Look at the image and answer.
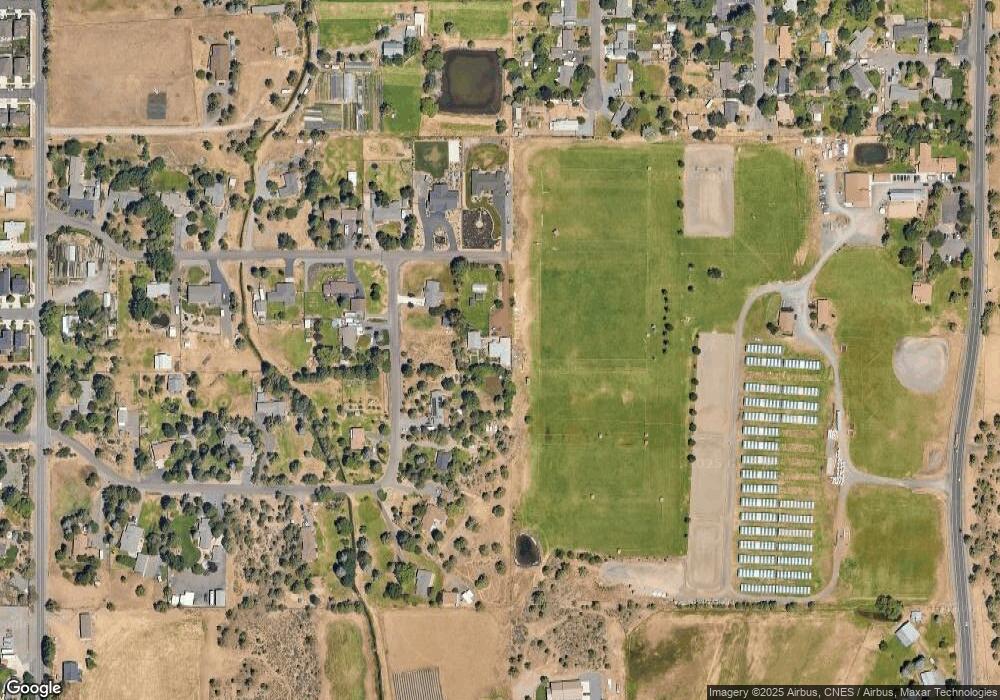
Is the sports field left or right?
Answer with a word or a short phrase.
right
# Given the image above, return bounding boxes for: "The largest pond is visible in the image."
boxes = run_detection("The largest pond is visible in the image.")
[447,55,496,105]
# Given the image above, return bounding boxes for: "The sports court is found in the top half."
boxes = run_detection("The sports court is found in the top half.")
[147,93,166,119]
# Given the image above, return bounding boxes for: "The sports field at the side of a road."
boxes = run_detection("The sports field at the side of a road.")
[520,146,806,555]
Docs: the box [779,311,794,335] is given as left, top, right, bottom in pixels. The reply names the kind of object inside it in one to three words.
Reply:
building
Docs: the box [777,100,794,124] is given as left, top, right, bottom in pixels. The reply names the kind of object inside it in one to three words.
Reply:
house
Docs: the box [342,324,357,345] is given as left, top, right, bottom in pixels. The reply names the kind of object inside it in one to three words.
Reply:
house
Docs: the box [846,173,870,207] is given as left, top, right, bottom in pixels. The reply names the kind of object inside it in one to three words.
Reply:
barn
